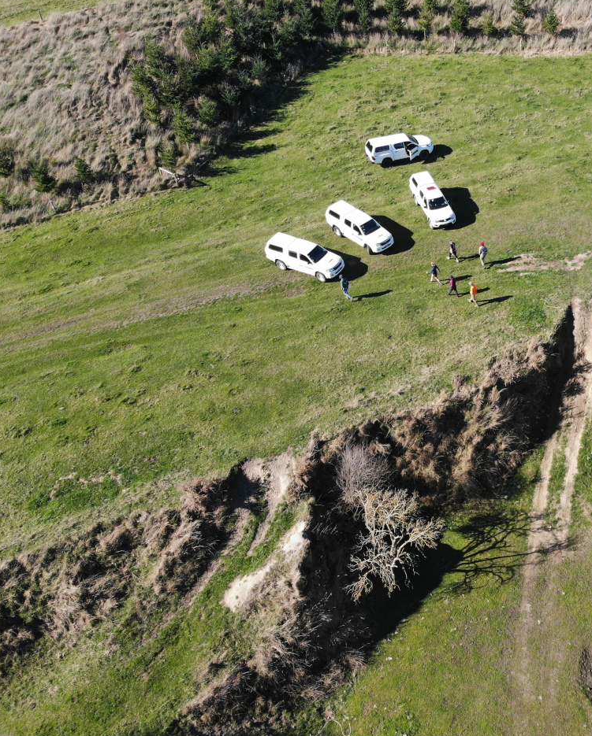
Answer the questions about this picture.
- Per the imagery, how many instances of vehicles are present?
4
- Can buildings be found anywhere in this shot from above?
No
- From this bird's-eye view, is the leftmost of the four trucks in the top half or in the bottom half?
top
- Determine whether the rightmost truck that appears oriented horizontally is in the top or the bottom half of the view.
top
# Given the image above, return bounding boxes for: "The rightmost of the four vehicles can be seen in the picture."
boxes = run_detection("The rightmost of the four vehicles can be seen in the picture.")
[408,172,458,228]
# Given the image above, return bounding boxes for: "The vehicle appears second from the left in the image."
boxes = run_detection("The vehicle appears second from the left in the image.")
[322,199,397,255]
